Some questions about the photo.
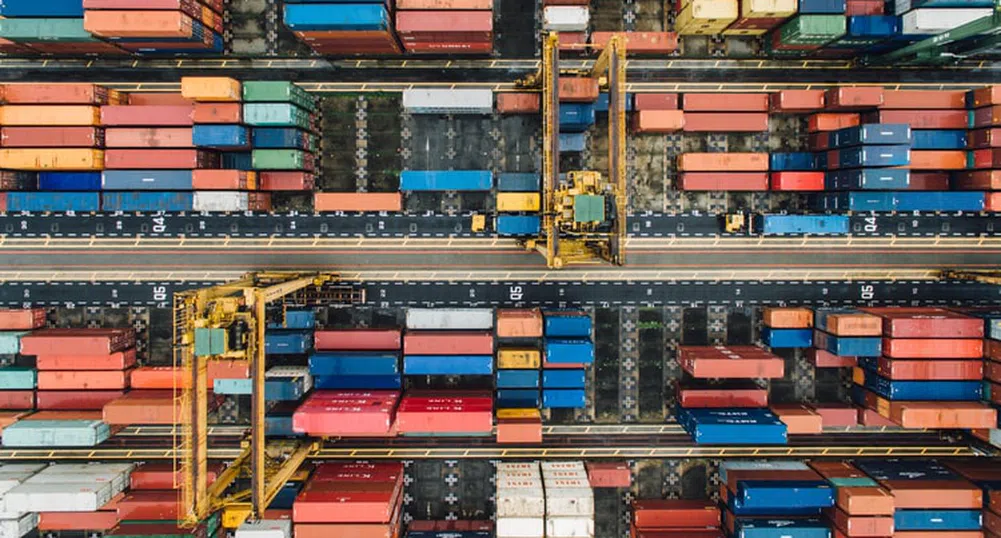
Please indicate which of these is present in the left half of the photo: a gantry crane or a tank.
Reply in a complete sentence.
Visible in the left half of the photo is a gantry crane.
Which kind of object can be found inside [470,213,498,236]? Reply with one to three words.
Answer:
truck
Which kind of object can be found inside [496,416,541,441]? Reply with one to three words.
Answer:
shipping container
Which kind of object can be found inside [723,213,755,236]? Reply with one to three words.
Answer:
truck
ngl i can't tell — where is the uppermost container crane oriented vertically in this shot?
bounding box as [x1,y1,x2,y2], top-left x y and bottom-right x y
[518,28,630,269]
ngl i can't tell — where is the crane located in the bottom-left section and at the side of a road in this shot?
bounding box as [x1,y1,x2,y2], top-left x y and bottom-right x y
[173,274,346,523]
